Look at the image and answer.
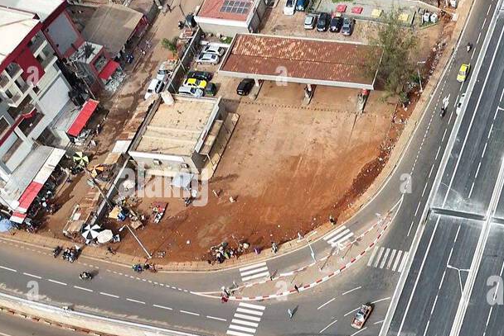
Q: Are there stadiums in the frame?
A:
No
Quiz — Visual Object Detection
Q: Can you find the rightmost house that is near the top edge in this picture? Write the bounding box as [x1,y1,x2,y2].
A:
[194,0,277,42]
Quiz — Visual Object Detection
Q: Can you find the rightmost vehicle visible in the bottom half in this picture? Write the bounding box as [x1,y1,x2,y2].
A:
[351,300,374,332]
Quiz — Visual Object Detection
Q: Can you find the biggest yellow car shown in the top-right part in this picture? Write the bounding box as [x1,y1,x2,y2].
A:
[457,63,470,83]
